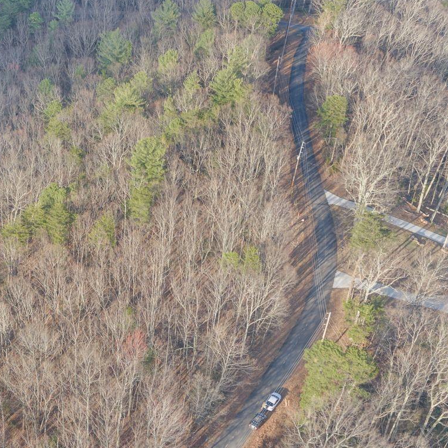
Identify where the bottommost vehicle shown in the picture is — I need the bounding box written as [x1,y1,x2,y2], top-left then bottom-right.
[249,411,266,429]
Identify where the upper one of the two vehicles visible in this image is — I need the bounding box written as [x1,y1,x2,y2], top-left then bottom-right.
[263,391,279,410]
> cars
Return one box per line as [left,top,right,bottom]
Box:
[263,391,279,410]
[249,411,266,429]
